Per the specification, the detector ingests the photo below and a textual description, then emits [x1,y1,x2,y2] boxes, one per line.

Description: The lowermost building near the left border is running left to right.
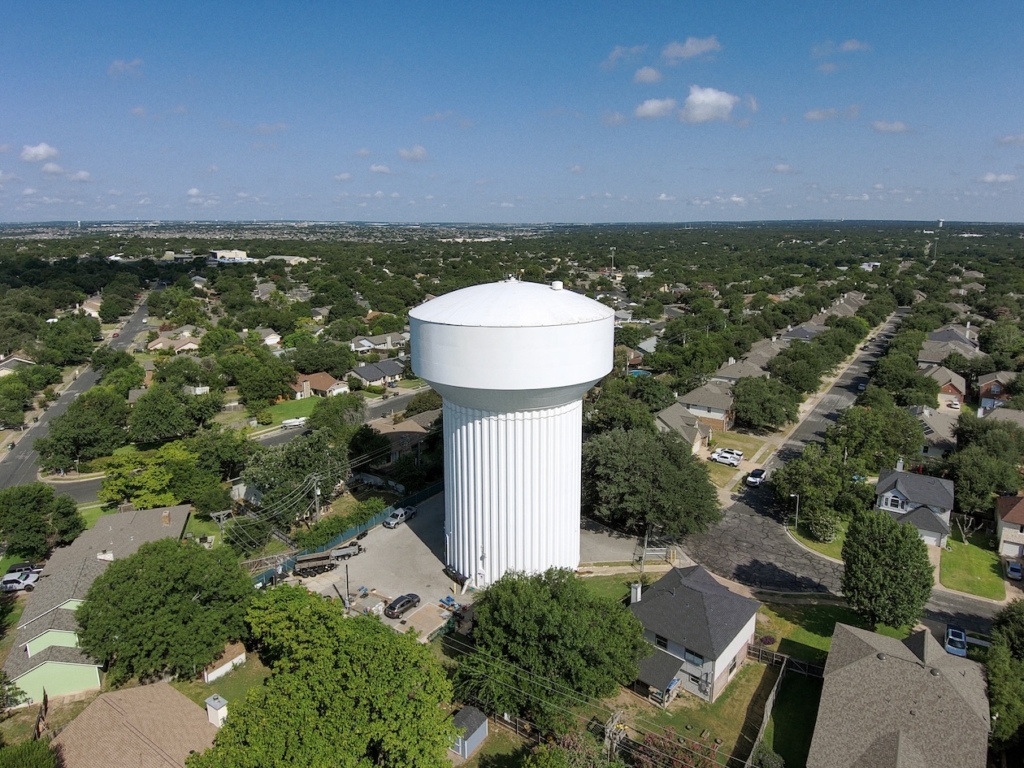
[51,683,248,768]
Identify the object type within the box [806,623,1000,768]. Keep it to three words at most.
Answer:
house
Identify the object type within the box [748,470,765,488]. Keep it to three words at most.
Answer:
car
